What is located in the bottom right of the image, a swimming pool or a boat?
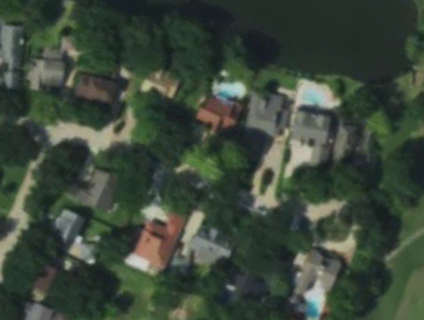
swimming pool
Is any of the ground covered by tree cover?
Yes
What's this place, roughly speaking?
residential area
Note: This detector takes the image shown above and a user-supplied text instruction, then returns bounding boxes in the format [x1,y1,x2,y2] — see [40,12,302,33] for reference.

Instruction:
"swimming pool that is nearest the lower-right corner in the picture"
[304,281,327,320]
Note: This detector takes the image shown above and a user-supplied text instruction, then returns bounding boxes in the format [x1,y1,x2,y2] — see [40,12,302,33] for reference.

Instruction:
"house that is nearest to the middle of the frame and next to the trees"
[199,94,240,135]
